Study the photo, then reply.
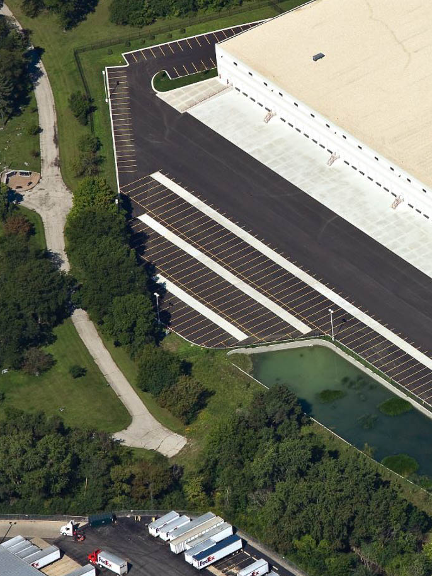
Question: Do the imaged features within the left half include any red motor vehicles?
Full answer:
Yes, a red motor vehicle shows up within the left half.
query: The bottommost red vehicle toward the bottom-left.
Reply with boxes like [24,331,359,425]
[87,552,107,570]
